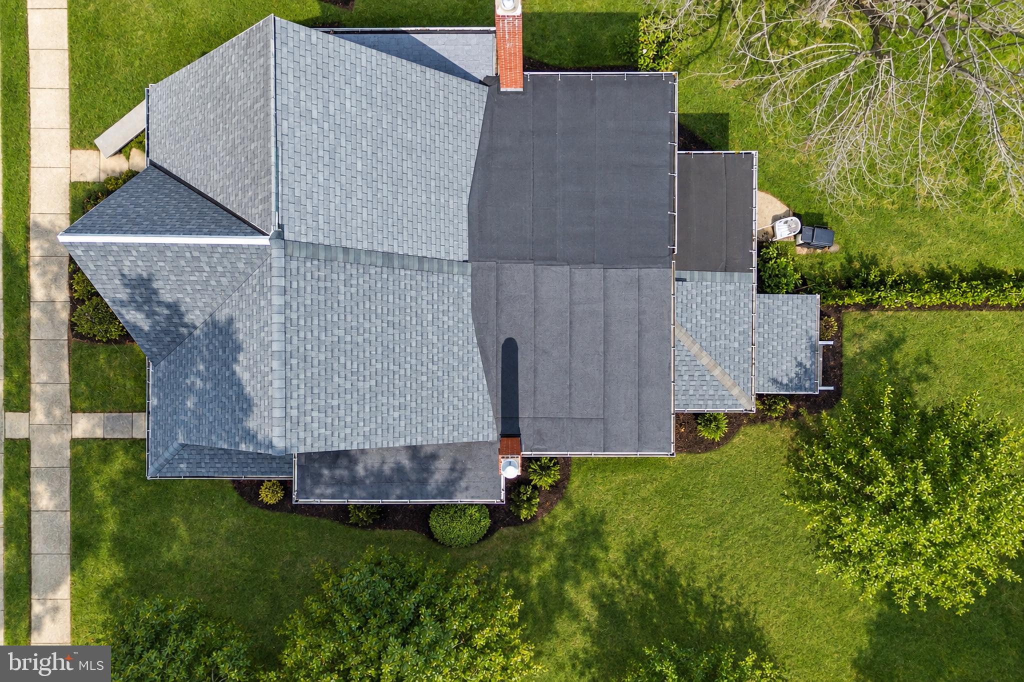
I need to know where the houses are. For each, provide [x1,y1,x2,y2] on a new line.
[56,0,818,507]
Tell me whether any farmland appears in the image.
No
